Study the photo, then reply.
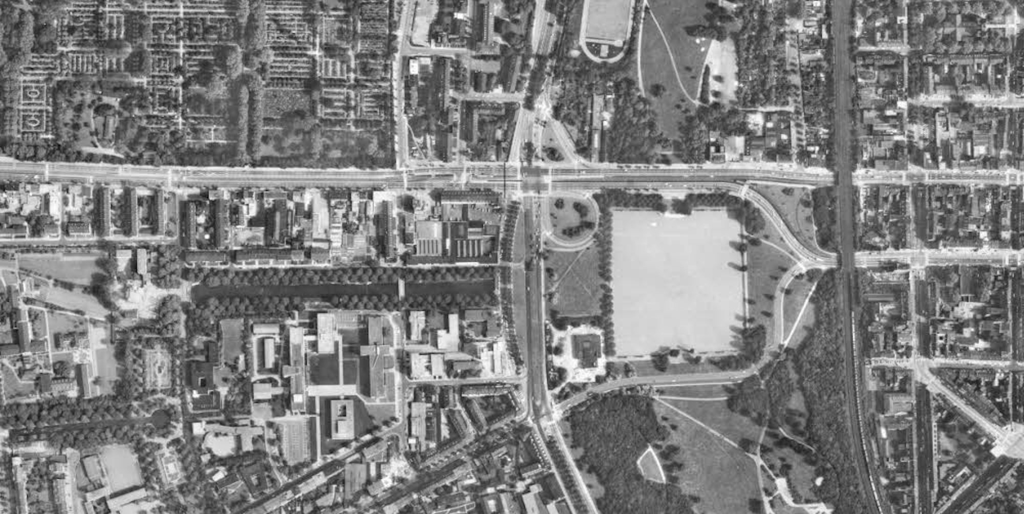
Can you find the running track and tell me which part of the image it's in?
top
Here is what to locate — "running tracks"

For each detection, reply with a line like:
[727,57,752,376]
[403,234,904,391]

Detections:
[580,0,632,63]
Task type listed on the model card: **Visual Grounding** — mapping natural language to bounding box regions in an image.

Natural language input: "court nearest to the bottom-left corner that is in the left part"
[81,453,106,483]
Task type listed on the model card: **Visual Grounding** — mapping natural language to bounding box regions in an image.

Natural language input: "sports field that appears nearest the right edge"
[613,207,743,355]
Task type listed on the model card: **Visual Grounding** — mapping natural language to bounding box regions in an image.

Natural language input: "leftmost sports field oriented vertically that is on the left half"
[92,313,117,398]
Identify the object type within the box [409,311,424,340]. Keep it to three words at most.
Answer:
house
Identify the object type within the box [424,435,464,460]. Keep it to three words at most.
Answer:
building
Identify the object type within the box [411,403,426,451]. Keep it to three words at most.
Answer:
building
